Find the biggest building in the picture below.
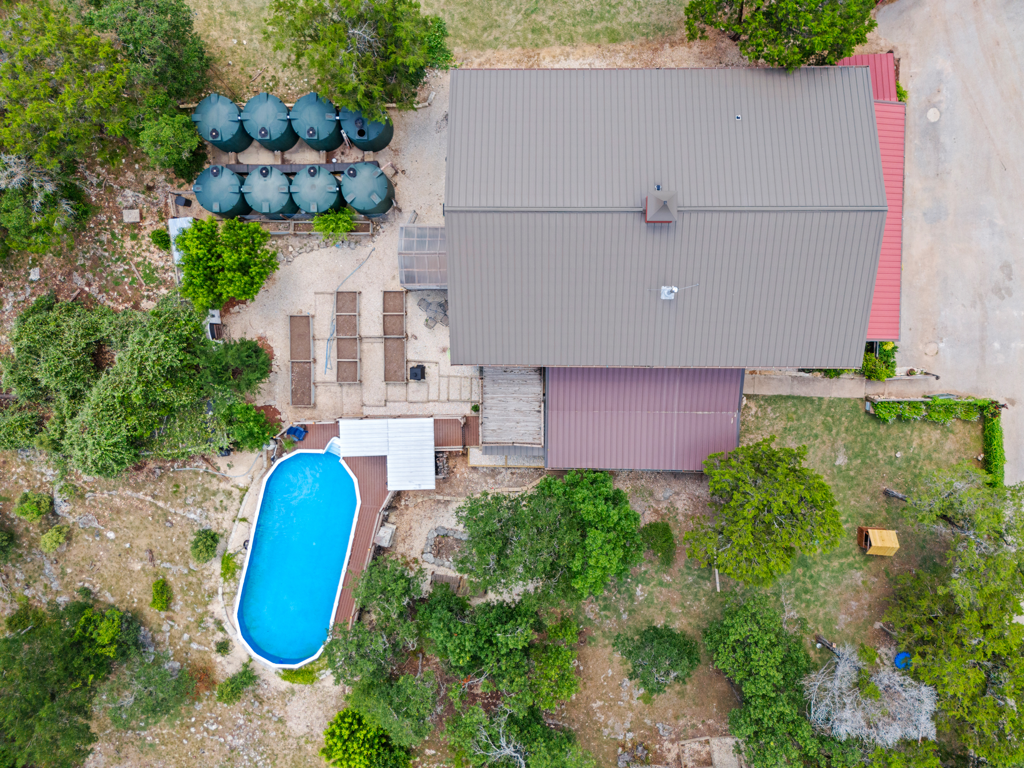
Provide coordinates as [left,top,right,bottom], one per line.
[445,52,911,473]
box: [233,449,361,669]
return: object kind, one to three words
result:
swimming pool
